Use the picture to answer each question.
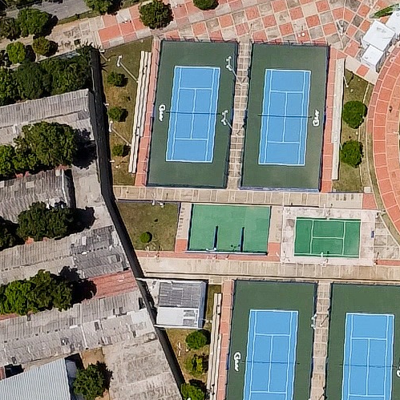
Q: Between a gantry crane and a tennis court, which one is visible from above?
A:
tennis court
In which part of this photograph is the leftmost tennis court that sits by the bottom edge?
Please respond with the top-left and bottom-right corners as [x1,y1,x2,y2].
[227,282,318,400]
